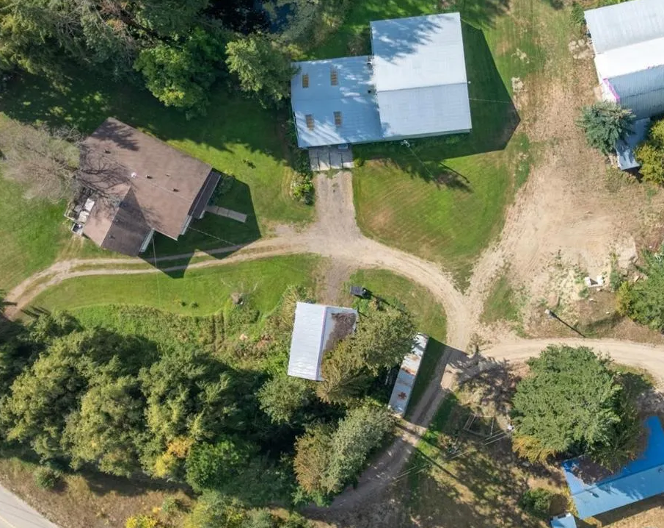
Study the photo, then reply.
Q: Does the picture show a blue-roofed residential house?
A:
Yes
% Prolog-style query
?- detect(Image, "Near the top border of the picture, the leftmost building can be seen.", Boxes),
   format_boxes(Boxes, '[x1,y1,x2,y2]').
[291,13,471,148]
